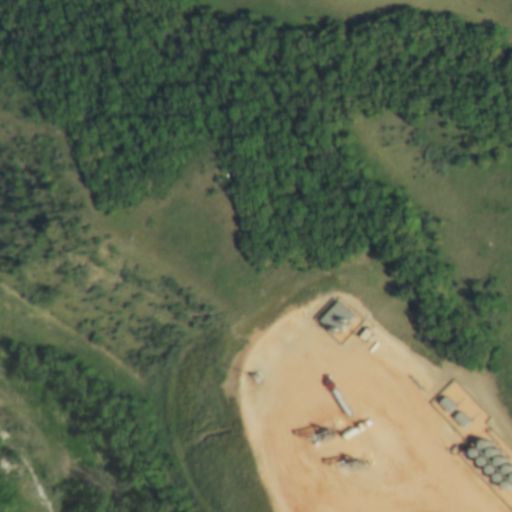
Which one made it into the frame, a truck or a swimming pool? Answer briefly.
truck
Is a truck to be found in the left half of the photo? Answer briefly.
No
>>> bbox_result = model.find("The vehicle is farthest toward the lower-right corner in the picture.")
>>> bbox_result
[342,418,375,440]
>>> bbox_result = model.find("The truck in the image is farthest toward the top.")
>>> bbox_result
[322,372,354,418]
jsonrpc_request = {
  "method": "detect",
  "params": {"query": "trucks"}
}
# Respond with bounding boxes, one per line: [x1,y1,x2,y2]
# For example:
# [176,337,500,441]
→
[322,372,354,418]
[342,418,375,440]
